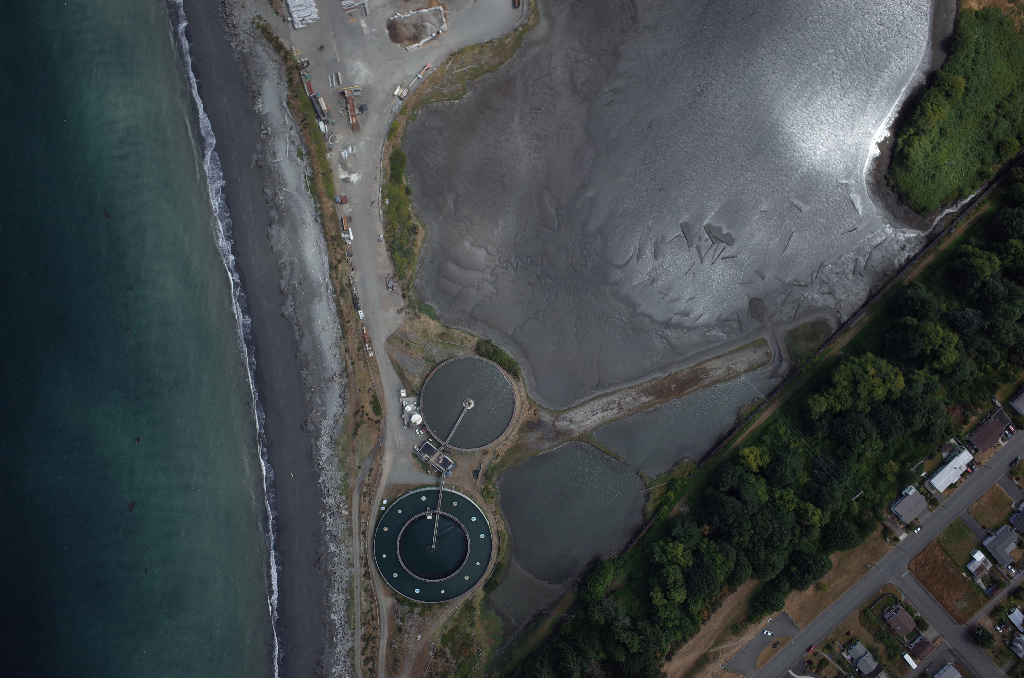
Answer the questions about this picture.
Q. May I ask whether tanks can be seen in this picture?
Yes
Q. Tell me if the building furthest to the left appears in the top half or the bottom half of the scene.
bottom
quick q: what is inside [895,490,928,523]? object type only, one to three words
house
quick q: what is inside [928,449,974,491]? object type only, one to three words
house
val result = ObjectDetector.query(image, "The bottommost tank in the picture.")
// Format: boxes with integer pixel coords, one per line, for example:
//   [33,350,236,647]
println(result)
[375,471,492,604]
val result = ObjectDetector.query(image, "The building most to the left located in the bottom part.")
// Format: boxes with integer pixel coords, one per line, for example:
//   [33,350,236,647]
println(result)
[417,440,457,473]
